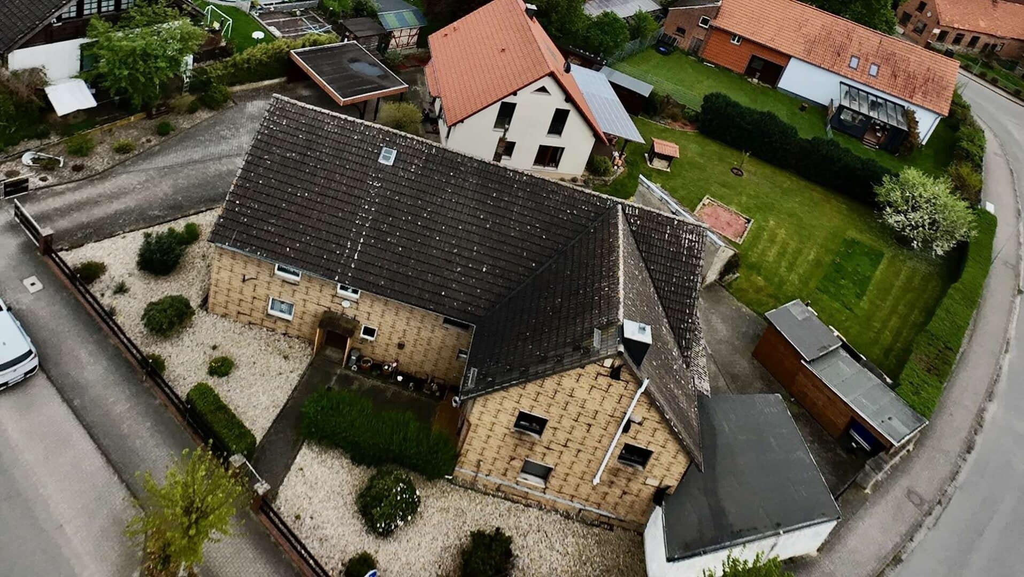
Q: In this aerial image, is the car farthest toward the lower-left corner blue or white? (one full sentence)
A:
The color of the car farthest toward the lower-left corner is white.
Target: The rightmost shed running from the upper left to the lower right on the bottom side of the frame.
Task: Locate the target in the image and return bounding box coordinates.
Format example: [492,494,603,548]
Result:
[744,301,930,466]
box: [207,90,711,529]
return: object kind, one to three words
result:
house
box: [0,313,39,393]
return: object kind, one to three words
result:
car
